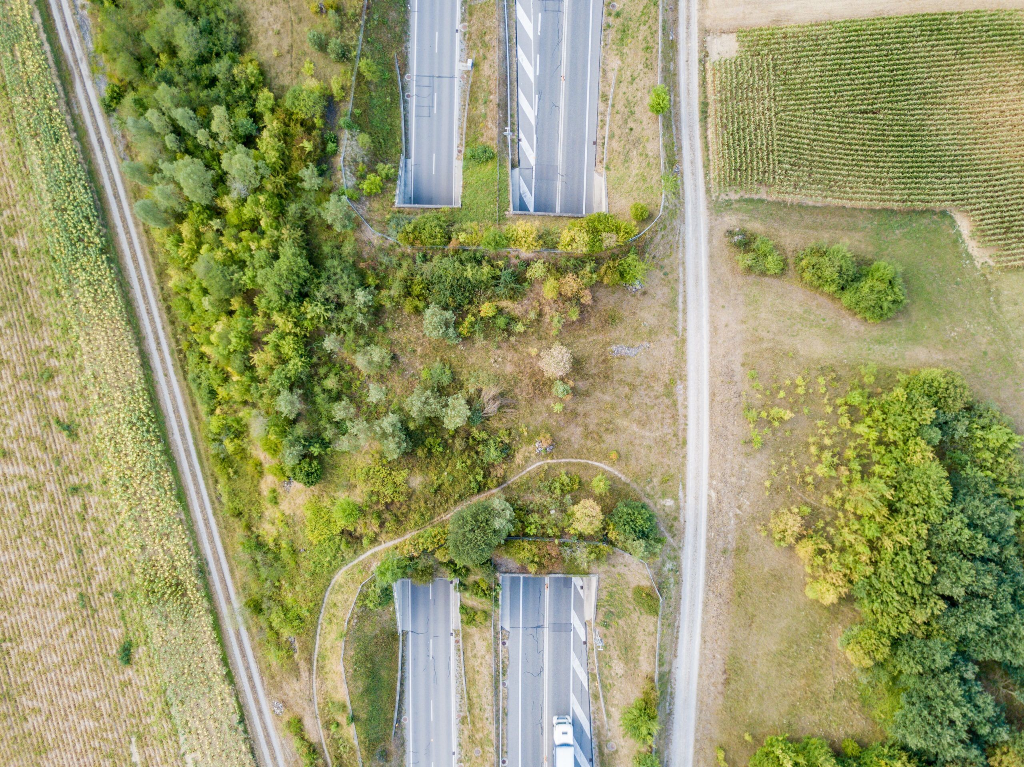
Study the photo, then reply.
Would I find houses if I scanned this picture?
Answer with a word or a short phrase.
No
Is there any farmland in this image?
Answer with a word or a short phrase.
Yes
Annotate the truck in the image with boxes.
[552,713,575,767]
